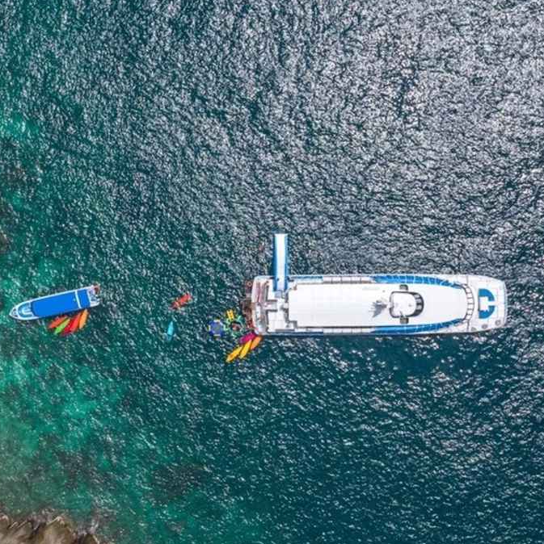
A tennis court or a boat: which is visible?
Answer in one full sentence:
Of the two, only a boat appears.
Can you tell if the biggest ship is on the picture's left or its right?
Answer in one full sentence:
The biggest ship is on the right side of the image.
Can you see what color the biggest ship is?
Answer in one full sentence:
From above, the biggest ship appears white.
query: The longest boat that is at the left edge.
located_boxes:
[9,282,105,319]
